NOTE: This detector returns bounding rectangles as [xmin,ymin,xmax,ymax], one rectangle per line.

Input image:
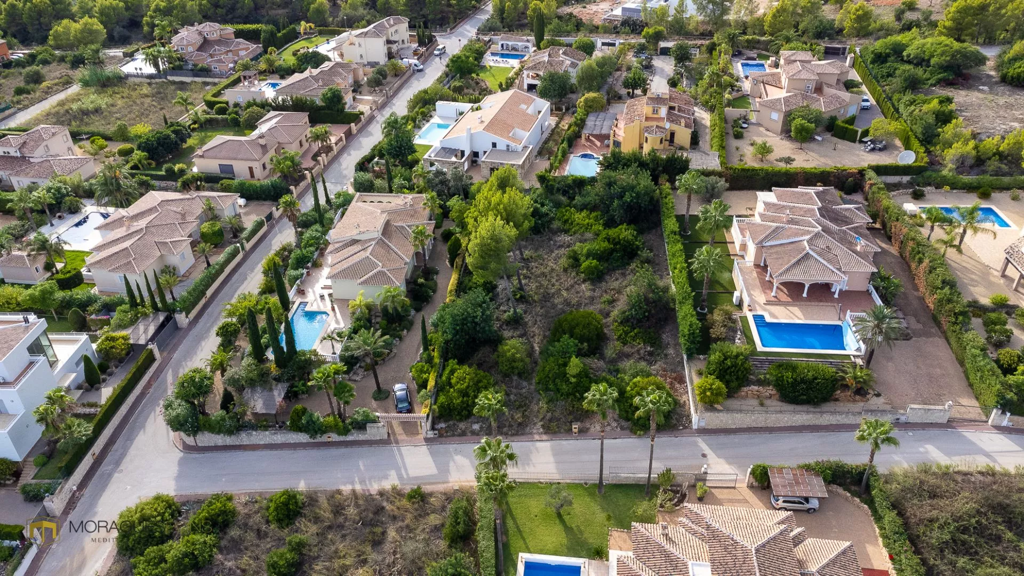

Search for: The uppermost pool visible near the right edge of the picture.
[920,205,1010,229]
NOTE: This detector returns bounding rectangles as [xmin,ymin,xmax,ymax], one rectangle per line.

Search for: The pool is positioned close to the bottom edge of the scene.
[516,553,588,576]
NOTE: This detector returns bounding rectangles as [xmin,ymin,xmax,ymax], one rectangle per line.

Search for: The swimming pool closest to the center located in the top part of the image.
[567,151,600,175]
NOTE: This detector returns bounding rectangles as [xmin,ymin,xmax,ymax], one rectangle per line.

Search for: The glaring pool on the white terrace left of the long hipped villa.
[53,210,111,244]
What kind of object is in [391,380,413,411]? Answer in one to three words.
car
